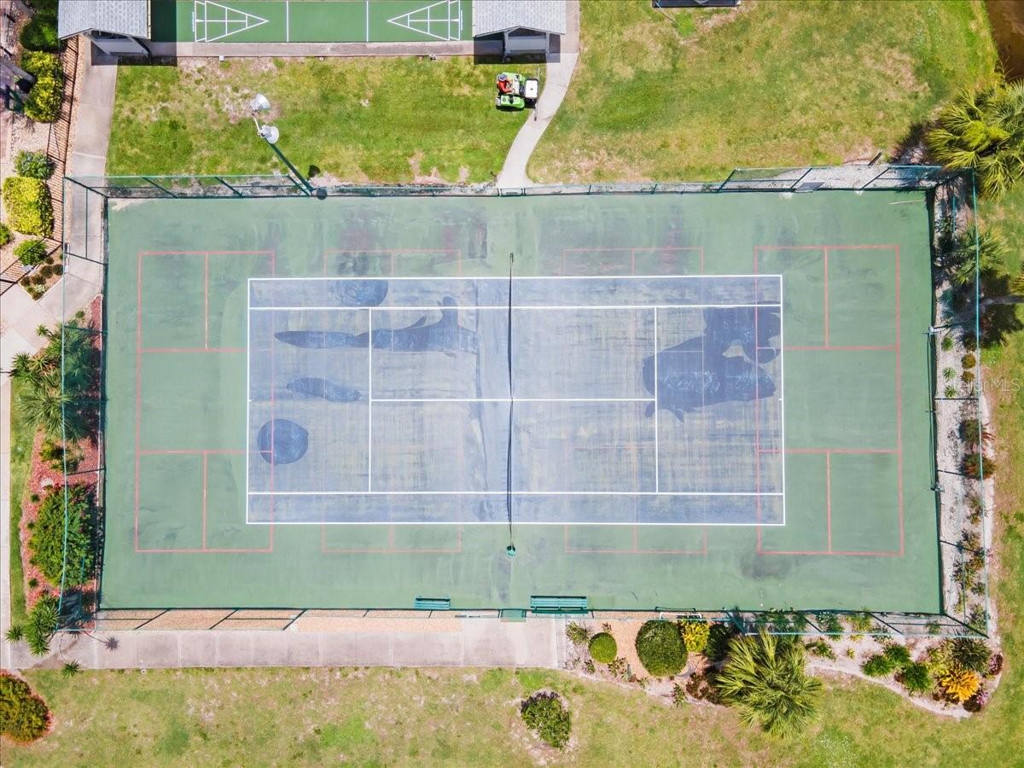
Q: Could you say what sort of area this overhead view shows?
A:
sports ground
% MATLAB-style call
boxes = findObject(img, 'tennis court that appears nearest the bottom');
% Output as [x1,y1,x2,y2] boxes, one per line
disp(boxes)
[99,189,942,613]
